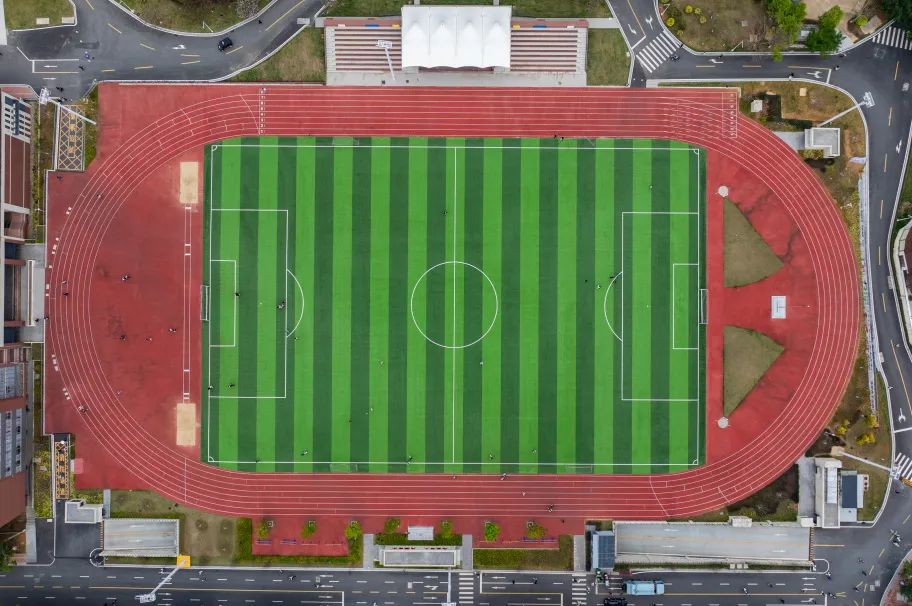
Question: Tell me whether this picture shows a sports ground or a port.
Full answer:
The picture captures a sports ground.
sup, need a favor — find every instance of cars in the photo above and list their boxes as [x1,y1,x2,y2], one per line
[605,598,628,606]
[215,35,234,49]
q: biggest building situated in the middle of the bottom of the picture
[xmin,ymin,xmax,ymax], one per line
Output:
[379,545,461,566]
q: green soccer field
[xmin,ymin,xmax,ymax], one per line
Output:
[202,135,707,475]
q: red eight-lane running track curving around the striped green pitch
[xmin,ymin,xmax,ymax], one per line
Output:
[45,84,862,556]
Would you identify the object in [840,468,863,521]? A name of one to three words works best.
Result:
shed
